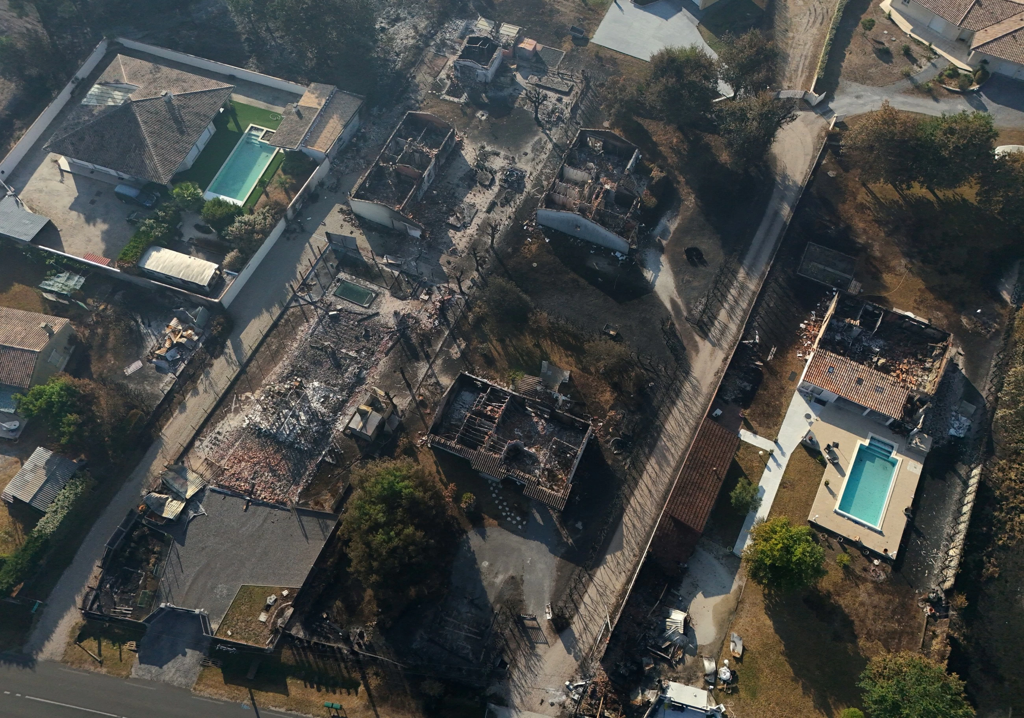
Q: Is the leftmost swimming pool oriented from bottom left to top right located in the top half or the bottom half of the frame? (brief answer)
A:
top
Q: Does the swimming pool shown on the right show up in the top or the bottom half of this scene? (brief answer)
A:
bottom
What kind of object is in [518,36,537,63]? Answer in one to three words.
shed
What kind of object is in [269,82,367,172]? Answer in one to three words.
shed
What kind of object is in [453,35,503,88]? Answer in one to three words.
house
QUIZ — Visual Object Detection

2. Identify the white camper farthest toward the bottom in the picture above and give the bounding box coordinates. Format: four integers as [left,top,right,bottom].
[643,682,708,718]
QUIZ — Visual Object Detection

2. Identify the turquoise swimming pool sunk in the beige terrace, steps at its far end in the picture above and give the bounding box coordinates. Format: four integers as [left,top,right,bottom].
[834,432,902,529]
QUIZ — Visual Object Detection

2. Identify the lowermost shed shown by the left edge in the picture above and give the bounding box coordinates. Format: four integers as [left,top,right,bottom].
[2,447,79,511]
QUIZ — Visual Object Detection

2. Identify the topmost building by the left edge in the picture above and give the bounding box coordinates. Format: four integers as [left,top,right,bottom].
[41,53,236,195]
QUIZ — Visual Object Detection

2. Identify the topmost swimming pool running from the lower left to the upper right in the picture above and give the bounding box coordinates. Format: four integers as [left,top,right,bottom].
[204,123,278,206]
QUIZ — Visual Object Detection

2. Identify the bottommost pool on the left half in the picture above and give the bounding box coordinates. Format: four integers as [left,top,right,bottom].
[330,275,382,312]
